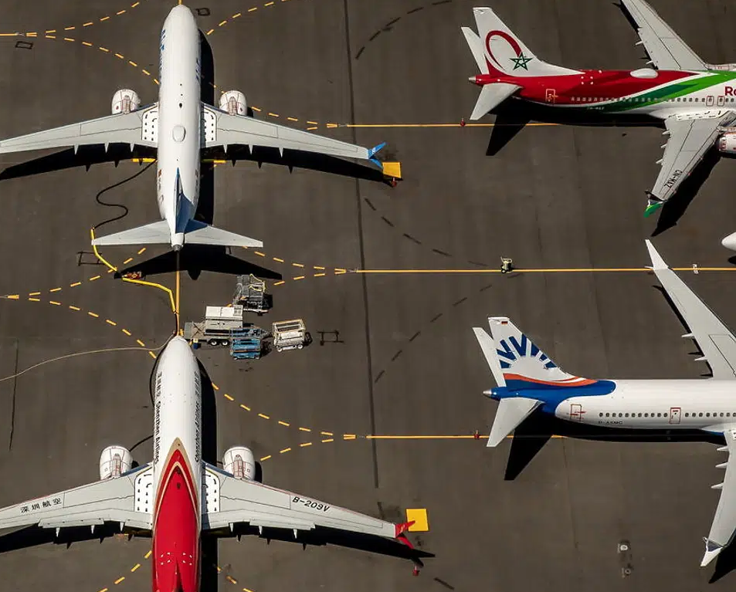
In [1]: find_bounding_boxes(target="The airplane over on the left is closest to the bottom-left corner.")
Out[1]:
[0,336,417,592]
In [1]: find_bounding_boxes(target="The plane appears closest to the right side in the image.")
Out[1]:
[715,230,736,256]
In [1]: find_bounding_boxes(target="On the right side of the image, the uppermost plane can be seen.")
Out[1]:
[461,0,736,219]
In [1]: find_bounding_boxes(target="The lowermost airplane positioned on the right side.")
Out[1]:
[474,243,736,566]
